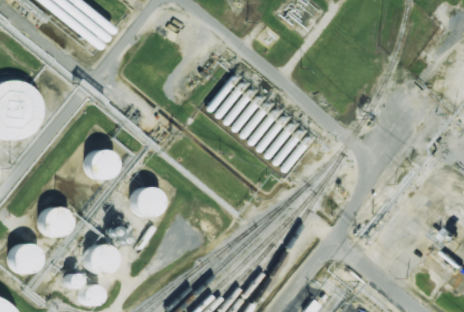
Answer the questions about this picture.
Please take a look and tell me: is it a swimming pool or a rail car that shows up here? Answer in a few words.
rail car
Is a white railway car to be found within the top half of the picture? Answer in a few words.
No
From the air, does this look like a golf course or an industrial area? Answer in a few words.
industrial area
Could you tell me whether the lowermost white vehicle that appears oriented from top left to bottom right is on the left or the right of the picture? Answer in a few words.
right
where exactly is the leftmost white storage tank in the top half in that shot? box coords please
[0,79,46,142]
